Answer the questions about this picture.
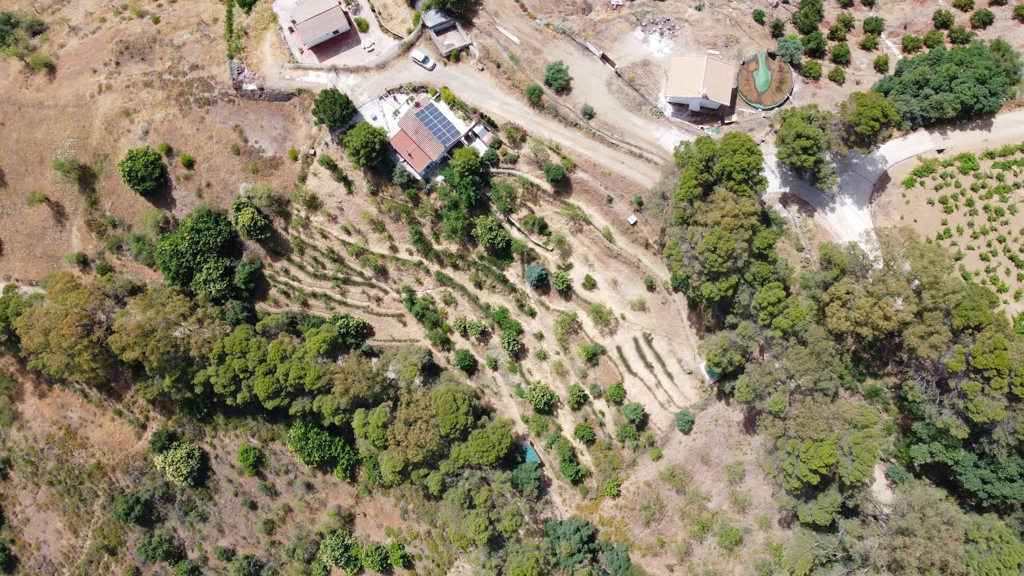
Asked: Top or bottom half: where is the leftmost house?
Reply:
top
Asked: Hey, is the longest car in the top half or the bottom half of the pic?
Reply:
top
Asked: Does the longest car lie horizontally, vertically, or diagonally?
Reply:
diagonally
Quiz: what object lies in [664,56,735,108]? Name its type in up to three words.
house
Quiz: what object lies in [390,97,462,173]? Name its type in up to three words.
house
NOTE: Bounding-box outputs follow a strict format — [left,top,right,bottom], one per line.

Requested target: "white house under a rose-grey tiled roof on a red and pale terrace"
[285,0,353,50]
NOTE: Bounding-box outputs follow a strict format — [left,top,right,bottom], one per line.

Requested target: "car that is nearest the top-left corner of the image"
[411,49,436,71]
